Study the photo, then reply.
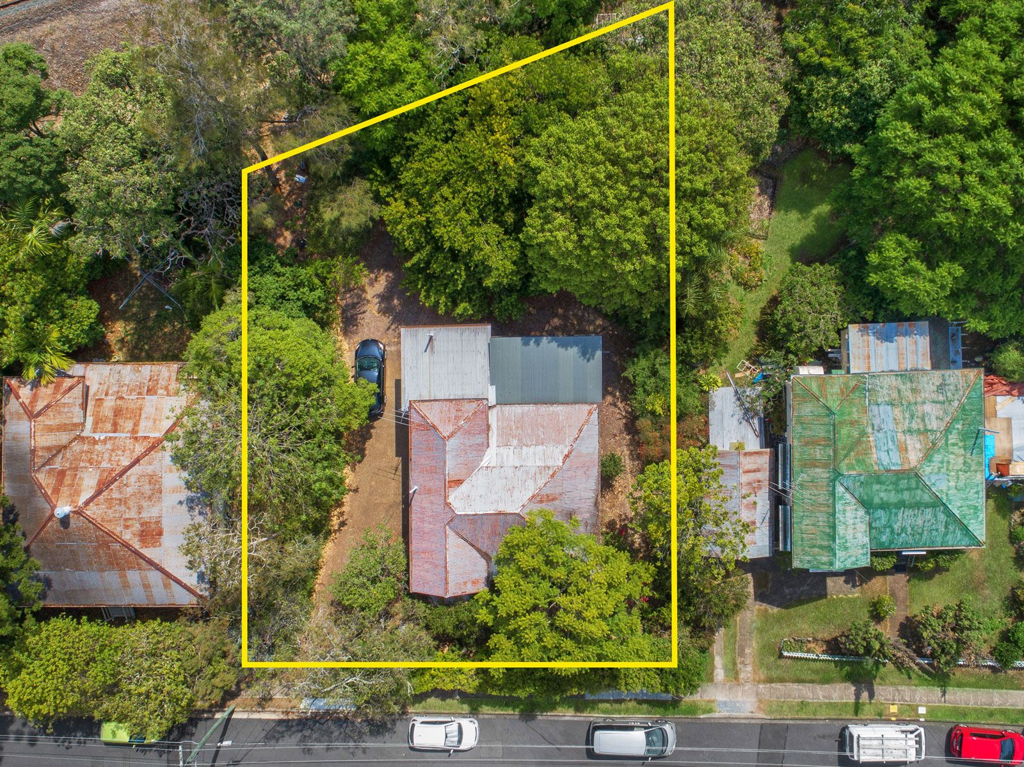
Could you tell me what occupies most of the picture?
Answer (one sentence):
The scene is dominated by trees.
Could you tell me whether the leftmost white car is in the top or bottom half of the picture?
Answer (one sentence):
Seen from above, the leftmost white car lies in the bottom half of the view.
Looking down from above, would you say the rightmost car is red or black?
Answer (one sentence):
The color of the rightmost car is red.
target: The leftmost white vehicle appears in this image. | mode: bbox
[409,714,479,754]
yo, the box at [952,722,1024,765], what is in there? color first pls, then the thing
red car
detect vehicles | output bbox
[588,714,675,758]
[102,711,174,749]
[409,714,479,754]
[952,722,1024,765]
[839,721,926,765]
[351,339,389,419]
